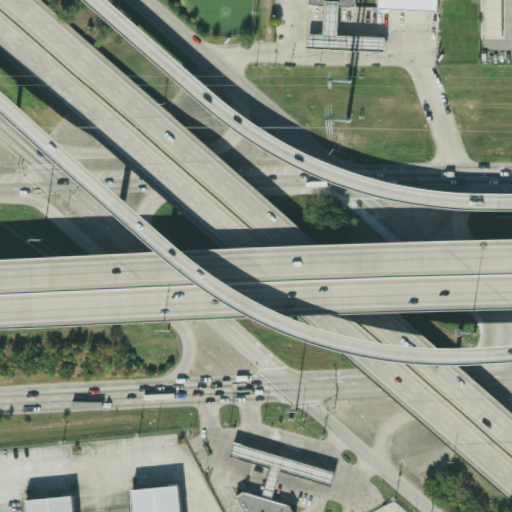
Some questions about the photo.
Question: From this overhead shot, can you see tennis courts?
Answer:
No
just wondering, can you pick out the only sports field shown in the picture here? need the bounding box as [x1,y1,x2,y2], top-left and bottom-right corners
[186,0,250,36]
